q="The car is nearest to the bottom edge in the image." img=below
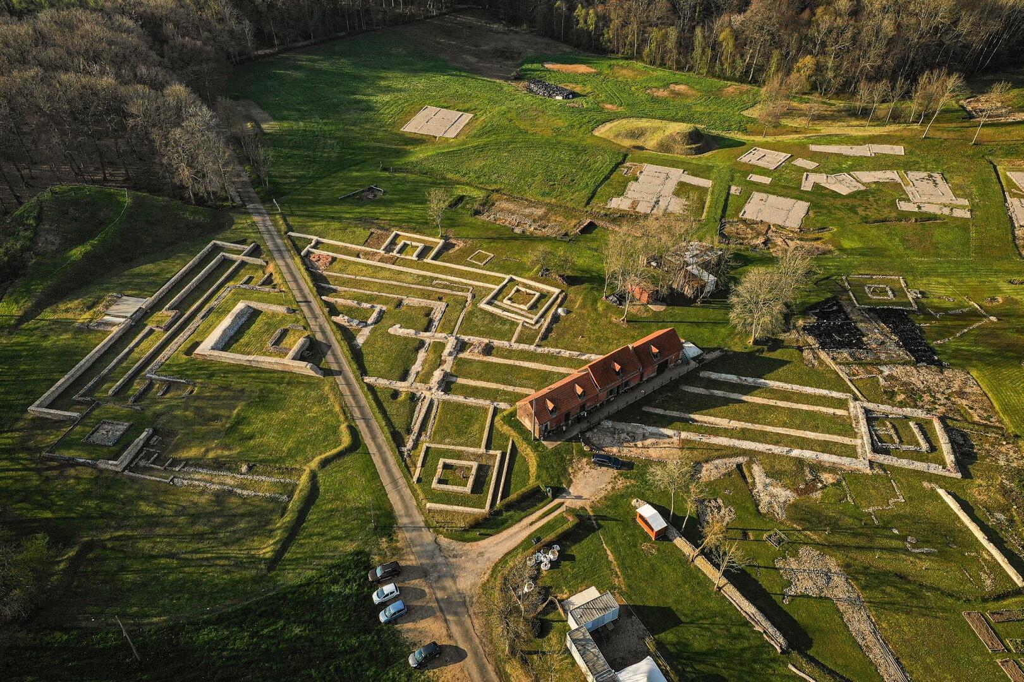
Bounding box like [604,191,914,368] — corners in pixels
[407,640,442,669]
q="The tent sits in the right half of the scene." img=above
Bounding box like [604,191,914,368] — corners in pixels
[616,657,664,682]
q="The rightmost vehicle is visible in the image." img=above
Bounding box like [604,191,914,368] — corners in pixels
[592,452,622,471]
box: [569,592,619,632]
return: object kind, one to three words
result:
building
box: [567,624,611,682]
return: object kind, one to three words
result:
building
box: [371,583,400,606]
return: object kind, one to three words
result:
car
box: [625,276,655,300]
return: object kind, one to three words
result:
shed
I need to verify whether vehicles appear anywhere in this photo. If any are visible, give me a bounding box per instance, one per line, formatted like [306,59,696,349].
[368,560,401,583]
[371,583,400,606]
[378,600,409,624]
[592,452,622,471]
[407,640,442,669]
